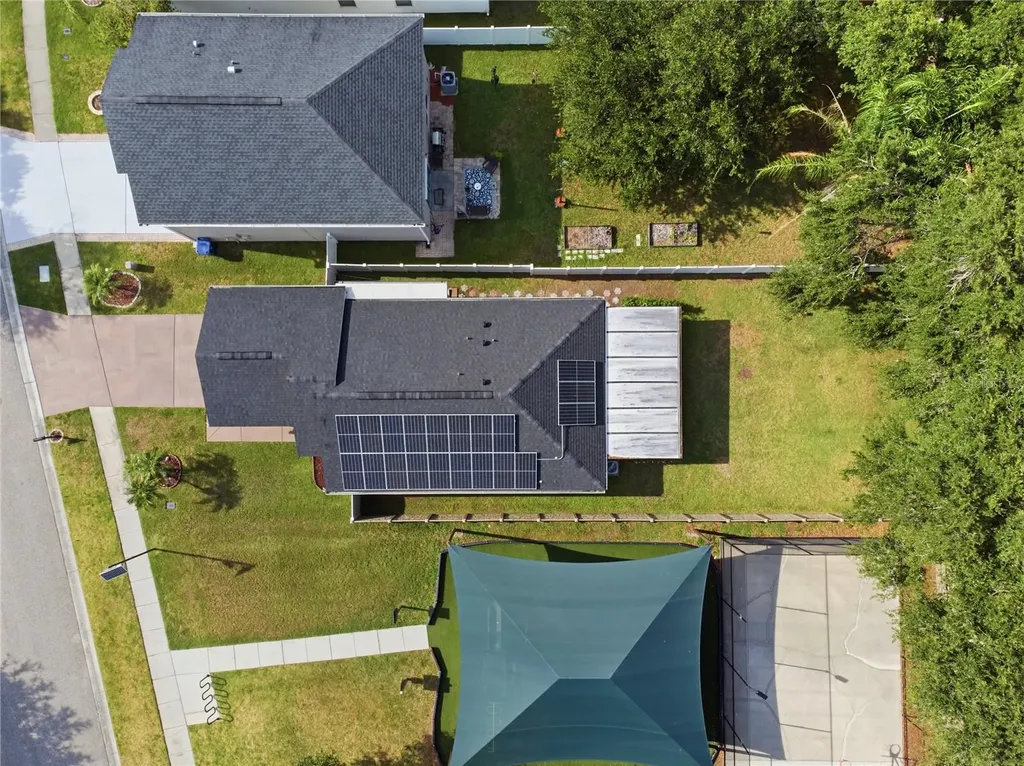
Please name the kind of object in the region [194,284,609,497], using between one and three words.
house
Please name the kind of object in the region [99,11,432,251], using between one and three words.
house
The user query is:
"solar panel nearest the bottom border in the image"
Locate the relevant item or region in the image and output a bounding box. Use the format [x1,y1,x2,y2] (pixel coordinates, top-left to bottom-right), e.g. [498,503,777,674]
[97,563,127,583]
